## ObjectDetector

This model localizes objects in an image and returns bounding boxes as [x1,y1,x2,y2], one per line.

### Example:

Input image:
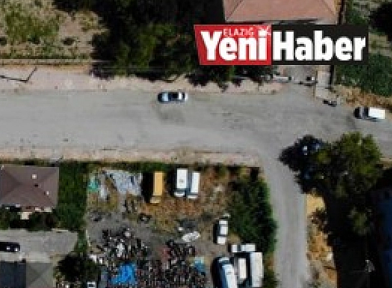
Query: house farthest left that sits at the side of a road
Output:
[0,165,59,221]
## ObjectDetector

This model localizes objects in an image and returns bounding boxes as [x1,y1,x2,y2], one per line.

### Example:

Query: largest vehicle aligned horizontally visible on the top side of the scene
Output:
[347,108,388,122]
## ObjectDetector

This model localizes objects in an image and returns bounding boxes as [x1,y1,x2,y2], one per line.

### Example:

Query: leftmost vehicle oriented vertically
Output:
[146,171,162,205]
